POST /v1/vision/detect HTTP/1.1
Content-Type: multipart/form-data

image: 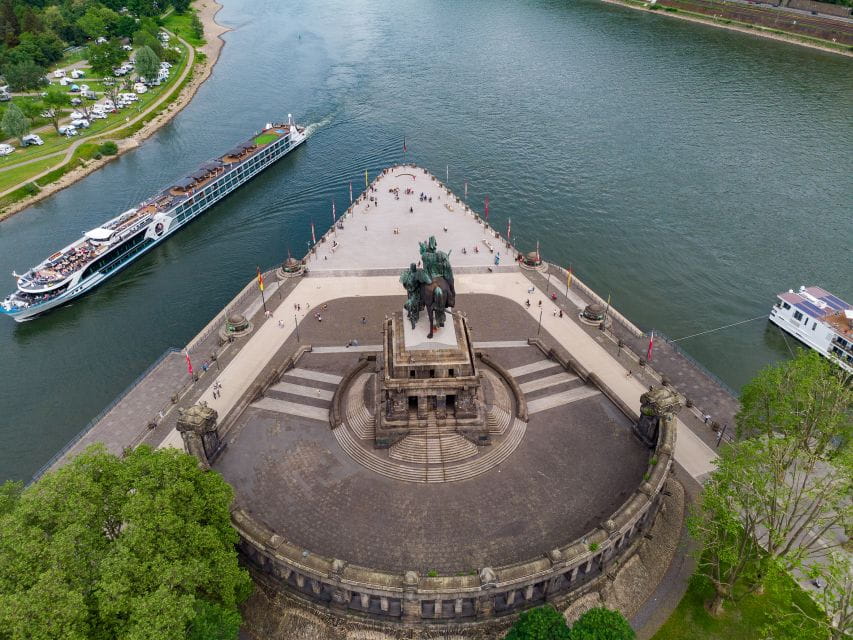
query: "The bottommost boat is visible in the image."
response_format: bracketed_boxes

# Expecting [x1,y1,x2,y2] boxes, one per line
[771,286,853,369]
